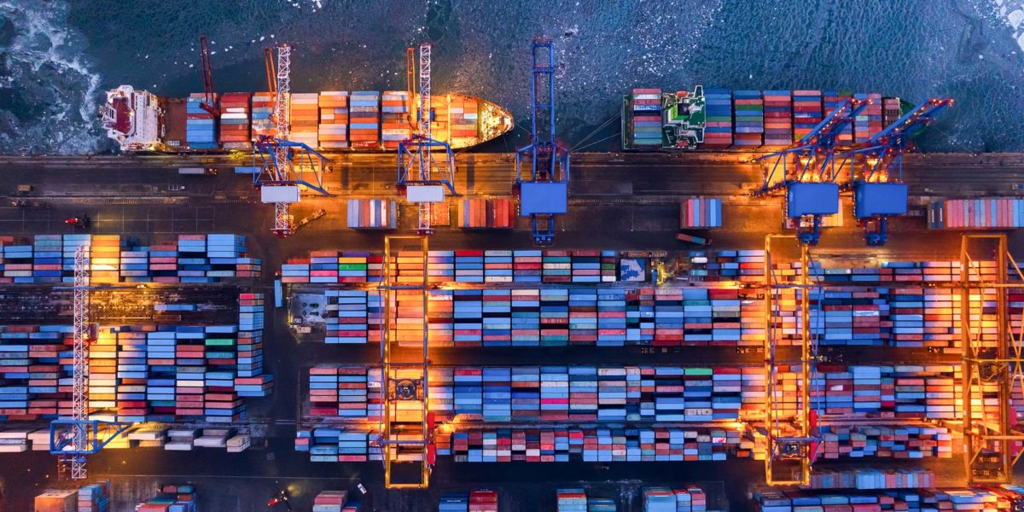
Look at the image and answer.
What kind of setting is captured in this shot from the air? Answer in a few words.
port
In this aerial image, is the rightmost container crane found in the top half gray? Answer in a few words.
No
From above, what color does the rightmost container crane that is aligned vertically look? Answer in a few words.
orange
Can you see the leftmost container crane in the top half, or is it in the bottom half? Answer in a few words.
bottom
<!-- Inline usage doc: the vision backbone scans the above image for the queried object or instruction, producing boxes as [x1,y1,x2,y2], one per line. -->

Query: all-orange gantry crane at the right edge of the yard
[929,236,1024,487]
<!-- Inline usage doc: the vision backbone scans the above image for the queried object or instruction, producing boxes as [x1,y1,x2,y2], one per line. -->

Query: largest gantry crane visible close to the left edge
[48,245,144,478]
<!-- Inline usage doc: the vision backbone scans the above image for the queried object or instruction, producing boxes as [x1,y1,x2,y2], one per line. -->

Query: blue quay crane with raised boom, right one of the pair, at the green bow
[811,98,954,254]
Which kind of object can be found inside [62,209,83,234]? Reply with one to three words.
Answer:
work vehicle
